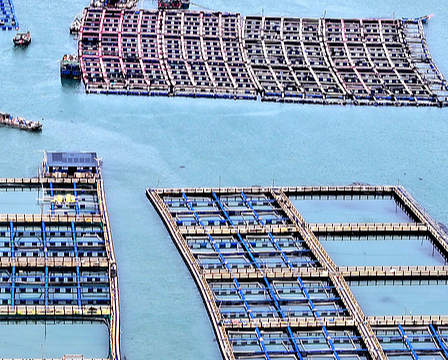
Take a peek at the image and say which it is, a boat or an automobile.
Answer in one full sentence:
It is a boat that can be seen here.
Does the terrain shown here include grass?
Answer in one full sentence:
No, there is no grass in the image.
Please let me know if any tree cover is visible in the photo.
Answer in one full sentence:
No, the scene doesn't show any tree cover.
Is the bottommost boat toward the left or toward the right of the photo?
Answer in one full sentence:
It is on the left.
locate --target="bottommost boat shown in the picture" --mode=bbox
[0,108,46,129]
